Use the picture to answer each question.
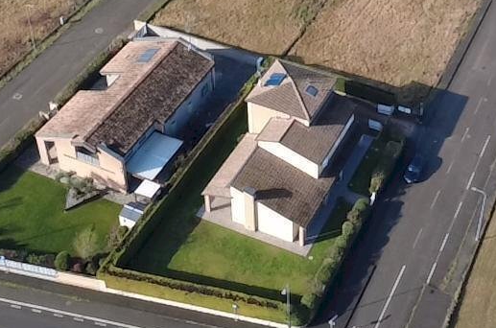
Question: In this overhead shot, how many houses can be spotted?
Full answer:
The number of houses here is 2.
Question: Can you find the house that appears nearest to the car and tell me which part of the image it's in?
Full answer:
Look in the center portion of the view to spot the house that appears nearest to the car.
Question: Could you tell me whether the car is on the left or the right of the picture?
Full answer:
You can find the car on the right side of the picture.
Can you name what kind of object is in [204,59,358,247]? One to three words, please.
house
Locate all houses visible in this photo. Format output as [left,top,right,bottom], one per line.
[34,37,212,194]
[204,59,358,247]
